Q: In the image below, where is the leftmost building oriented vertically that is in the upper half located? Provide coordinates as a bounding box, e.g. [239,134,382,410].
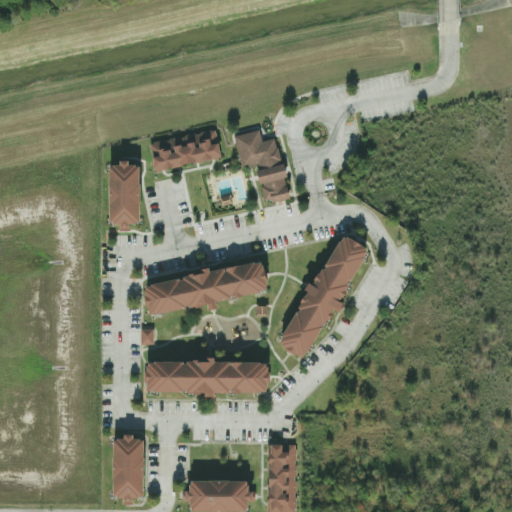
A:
[108,160,140,230]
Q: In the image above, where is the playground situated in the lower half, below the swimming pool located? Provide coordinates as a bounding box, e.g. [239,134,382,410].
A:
[195,316,259,349]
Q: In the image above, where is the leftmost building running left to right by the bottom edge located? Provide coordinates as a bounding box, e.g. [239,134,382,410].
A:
[185,481,254,512]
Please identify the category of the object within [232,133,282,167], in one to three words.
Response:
building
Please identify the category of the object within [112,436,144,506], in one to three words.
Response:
building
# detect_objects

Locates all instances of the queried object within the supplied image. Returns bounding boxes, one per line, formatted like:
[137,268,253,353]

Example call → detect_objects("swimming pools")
[208,169,250,210]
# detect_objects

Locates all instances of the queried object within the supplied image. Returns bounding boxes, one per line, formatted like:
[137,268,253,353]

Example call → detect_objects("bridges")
[438,0,461,36]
